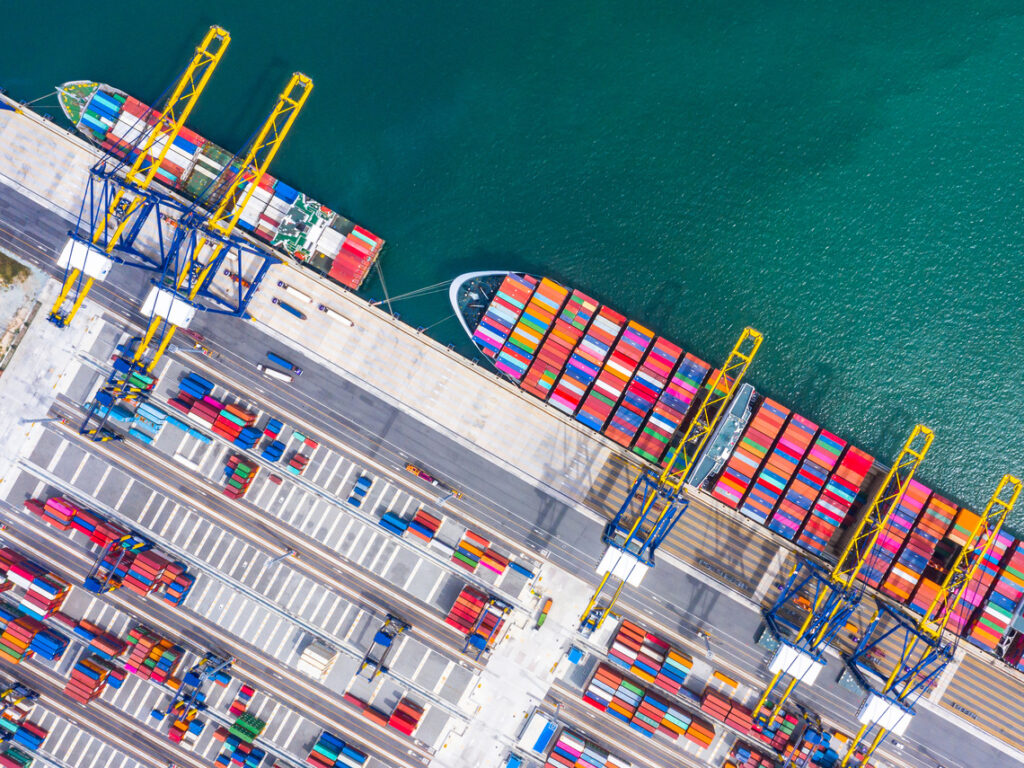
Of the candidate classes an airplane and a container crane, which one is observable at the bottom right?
container crane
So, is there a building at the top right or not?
No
